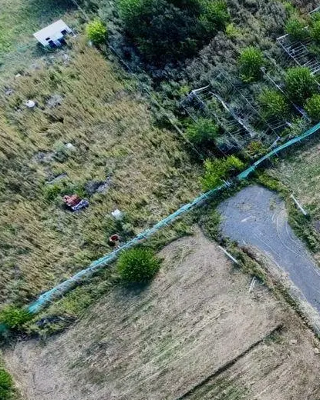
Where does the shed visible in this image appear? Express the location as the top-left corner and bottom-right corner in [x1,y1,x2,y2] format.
[30,18,80,52]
